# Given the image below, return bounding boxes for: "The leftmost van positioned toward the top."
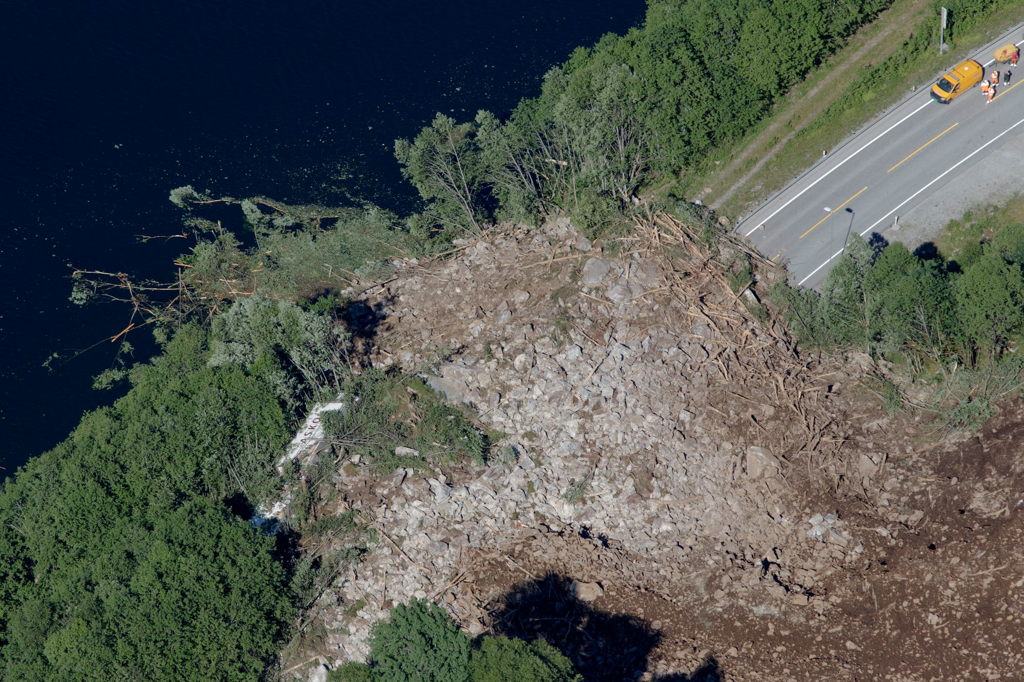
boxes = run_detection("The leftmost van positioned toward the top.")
[929,58,985,105]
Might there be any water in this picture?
Yes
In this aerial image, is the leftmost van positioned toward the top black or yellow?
yellow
